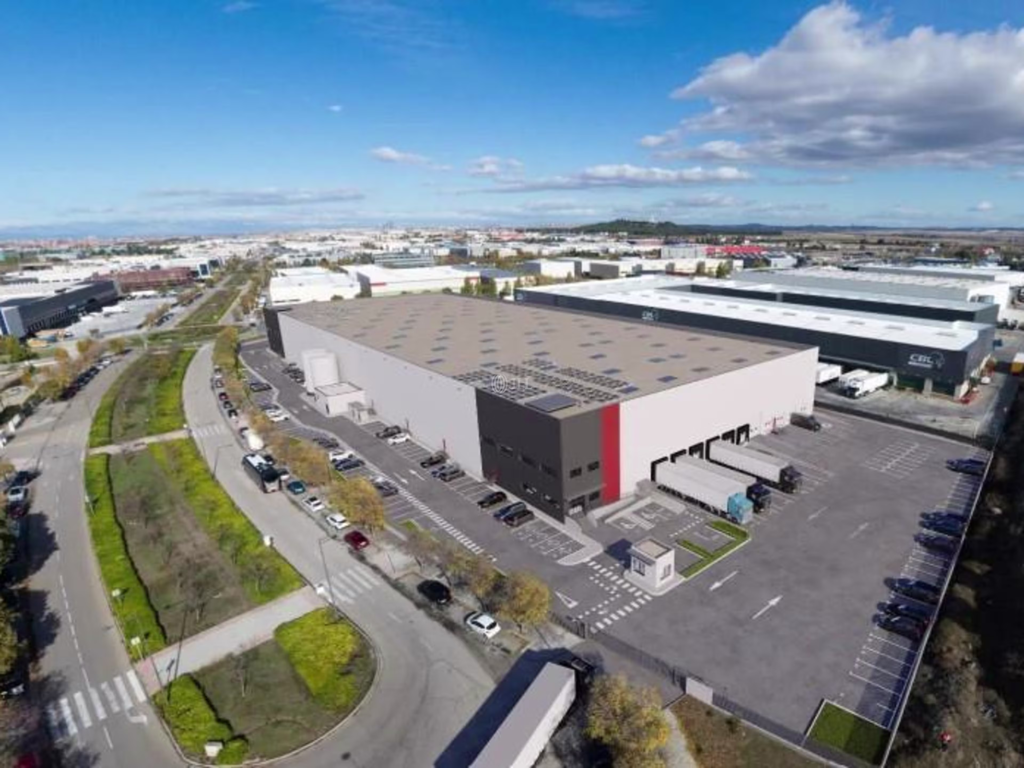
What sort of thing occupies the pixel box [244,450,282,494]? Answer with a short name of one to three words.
bus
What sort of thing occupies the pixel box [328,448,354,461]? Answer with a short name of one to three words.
vehicle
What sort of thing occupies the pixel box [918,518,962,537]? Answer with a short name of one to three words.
car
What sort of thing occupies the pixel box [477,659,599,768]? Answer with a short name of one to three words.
truck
